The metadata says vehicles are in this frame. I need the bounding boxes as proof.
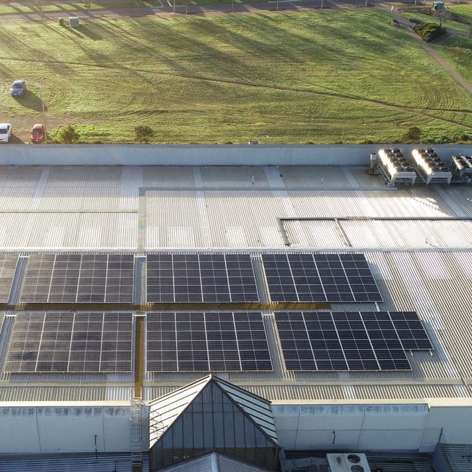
[9,79,25,95]
[31,124,47,141]
[0,125,13,141]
